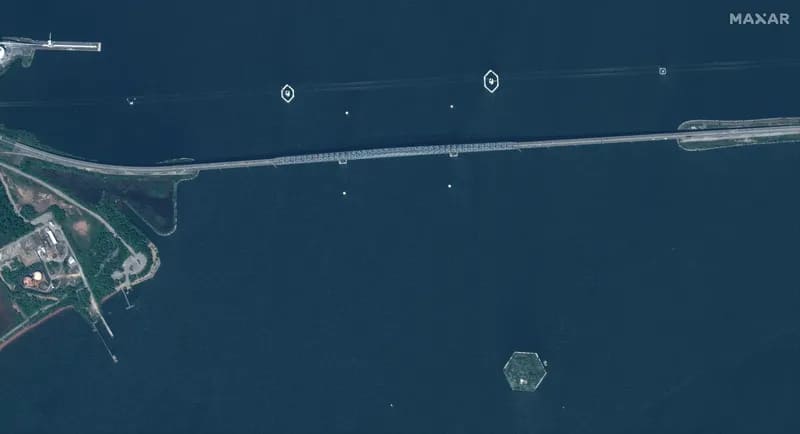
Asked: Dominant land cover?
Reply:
water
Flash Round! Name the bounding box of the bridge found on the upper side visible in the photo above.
[12,126,800,173]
